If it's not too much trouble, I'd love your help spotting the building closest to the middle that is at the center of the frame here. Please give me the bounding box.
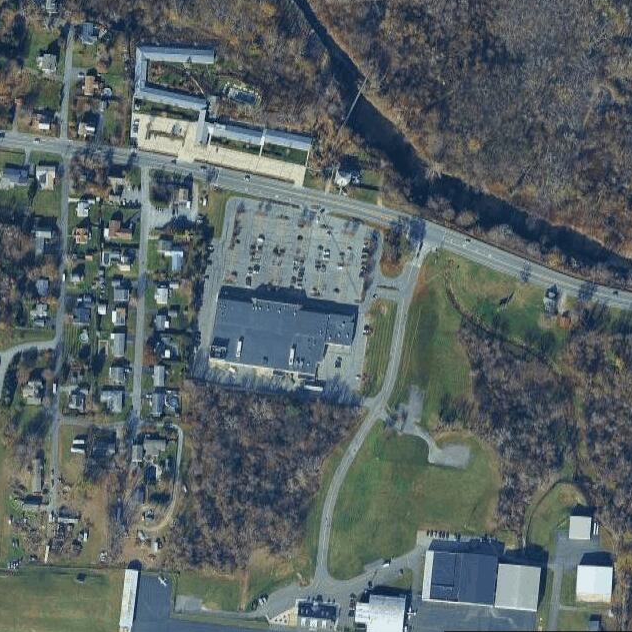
[210,298,359,380]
